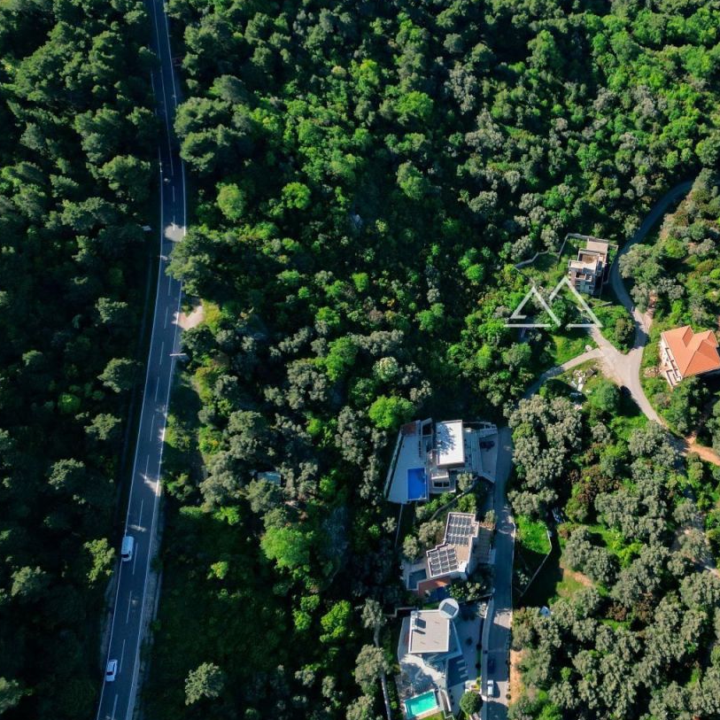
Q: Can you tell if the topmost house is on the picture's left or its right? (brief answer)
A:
right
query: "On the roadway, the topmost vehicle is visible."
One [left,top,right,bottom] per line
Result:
[121,536,136,560]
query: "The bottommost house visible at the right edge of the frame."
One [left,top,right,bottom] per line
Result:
[658,325,720,389]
